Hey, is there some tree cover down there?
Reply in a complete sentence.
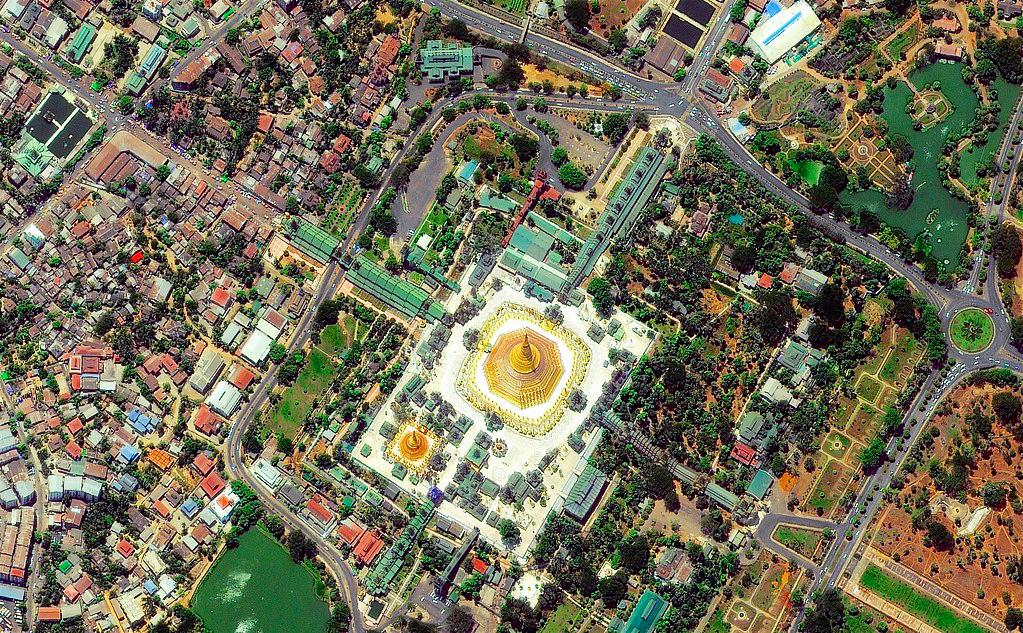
Yes, the picture does contain tree cover.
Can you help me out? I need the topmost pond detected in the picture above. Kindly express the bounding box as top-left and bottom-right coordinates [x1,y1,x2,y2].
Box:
[660,0,718,52]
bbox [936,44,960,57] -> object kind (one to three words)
house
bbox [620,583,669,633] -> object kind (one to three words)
building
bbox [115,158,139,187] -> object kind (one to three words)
shed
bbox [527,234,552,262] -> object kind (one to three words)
building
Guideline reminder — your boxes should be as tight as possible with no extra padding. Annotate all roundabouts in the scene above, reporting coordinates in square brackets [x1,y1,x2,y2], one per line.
[949,308,995,354]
